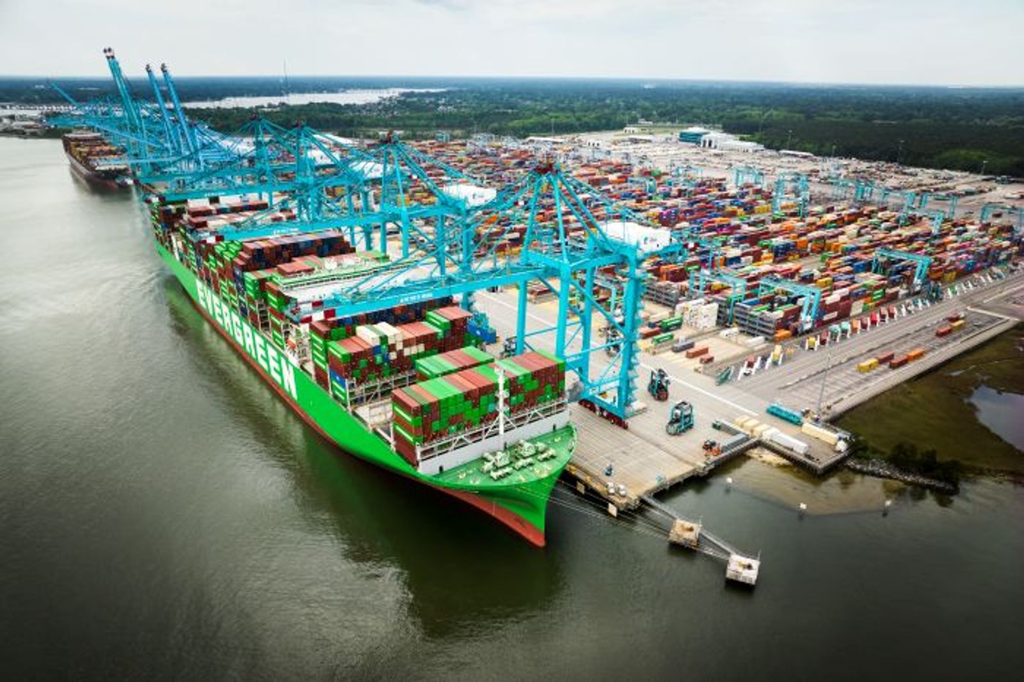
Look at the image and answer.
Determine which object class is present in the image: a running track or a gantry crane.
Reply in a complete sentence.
Looking from above, you can make out a gantry crane.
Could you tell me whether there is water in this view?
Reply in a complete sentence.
Yes, there's water in this view.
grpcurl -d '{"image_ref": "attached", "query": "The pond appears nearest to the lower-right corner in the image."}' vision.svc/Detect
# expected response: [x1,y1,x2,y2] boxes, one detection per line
[966,384,1024,451]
